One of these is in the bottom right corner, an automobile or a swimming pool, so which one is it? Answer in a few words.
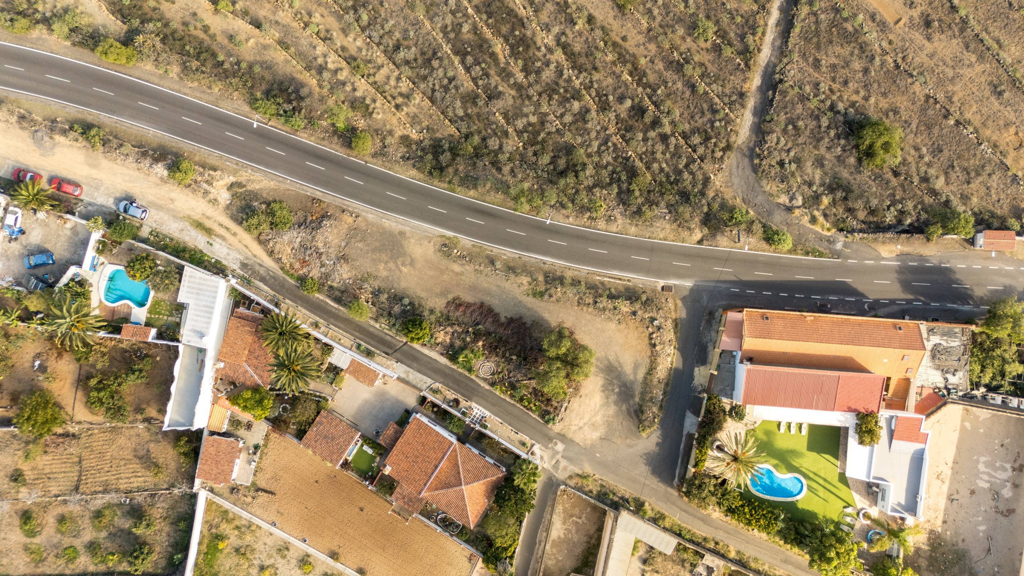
swimming pool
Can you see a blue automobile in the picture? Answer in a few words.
Yes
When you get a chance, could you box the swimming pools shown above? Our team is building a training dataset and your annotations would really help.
[99,264,155,313]
[747,463,807,501]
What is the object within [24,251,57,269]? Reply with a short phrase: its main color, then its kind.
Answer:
blue car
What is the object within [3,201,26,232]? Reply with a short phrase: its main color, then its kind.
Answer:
white car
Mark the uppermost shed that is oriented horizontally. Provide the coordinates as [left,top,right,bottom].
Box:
[965,230,1016,251]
